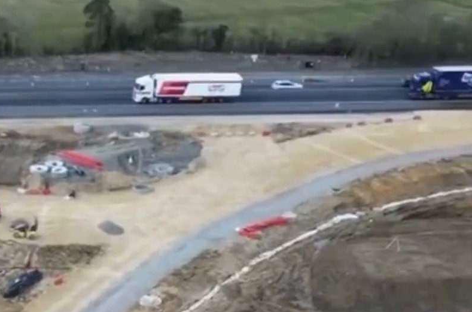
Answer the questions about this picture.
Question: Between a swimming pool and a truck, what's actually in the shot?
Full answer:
This aerial view contains a truck.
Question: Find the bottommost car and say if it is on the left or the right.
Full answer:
It is on the left.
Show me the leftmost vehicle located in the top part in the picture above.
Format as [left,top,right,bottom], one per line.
[135,70,247,104]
